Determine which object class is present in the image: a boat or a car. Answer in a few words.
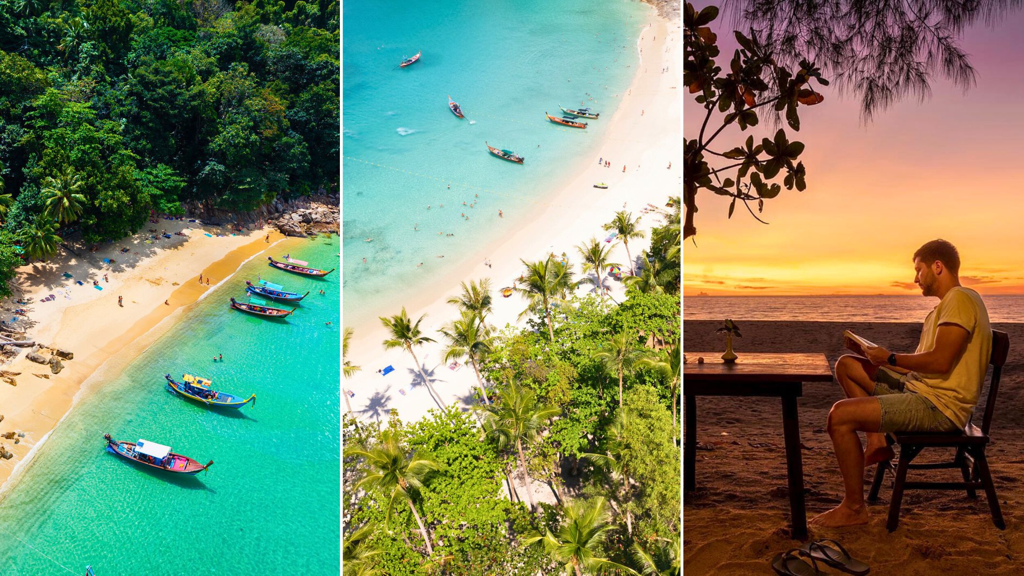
boat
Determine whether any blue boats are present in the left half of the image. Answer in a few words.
Yes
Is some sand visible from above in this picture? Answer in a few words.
Yes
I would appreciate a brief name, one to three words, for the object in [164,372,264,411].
boat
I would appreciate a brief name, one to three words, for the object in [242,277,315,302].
boat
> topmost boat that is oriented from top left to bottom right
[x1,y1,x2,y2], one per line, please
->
[449,94,467,126]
